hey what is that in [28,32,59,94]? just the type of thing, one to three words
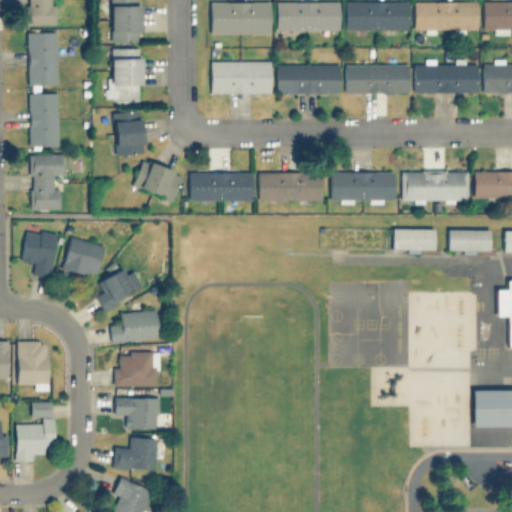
house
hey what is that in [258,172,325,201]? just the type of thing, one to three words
house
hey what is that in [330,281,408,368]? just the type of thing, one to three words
sports court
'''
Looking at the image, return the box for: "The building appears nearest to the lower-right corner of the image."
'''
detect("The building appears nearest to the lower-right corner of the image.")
[475,390,512,429]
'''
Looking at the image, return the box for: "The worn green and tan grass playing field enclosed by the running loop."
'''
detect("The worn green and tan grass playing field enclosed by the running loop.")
[188,286,316,512]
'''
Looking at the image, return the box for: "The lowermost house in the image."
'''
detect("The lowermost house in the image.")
[110,476,156,512]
